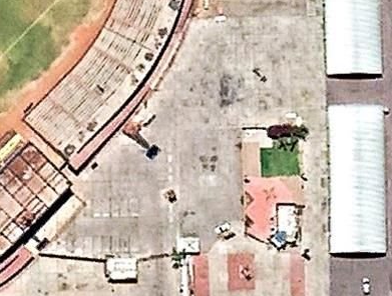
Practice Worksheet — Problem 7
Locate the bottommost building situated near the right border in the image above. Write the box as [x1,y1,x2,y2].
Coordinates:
[327,104,386,253]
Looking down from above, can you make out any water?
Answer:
No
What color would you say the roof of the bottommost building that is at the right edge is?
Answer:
white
